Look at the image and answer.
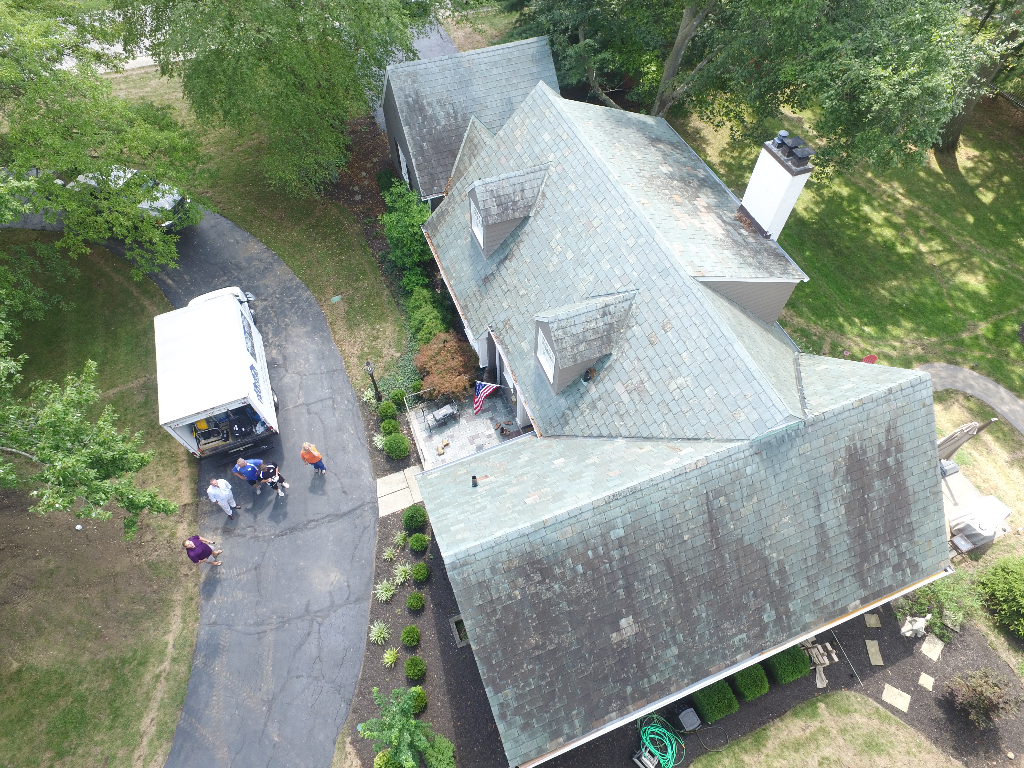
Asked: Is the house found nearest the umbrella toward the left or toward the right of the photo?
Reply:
right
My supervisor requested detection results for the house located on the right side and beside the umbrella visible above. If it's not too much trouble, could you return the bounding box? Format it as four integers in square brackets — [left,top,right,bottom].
[413,79,957,768]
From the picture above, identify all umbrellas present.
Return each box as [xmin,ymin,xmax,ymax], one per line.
[937,415,1000,462]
